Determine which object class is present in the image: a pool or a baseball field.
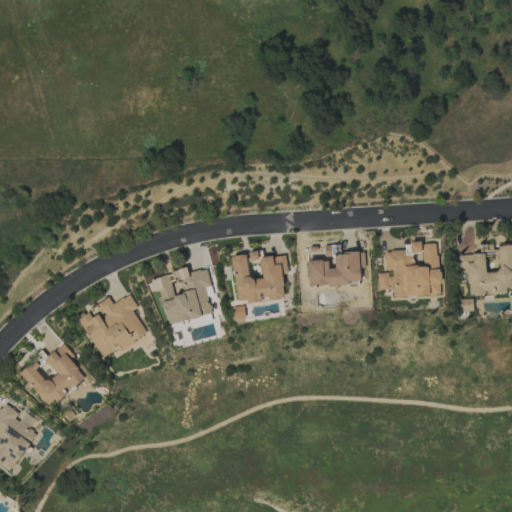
pool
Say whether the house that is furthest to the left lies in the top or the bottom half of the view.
bottom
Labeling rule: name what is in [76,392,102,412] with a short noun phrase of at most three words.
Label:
swimming pool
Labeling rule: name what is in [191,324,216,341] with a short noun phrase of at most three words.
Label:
swimming pool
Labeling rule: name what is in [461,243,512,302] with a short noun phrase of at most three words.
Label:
house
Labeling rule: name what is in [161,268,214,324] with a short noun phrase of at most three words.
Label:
house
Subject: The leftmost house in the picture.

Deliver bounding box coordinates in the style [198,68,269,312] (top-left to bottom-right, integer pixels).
[0,396,41,472]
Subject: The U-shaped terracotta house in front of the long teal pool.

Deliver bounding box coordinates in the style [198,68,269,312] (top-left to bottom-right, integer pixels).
[232,249,288,302]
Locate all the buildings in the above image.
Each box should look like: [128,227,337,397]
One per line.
[232,249,288,302]
[460,298,474,318]
[308,244,366,286]
[461,243,512,302]
[161,268,214,324]
[234,304,246,322]
[20,344,86,400]
[378,242,443,301]
[0,396,41,472]
[79,295,150,358]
